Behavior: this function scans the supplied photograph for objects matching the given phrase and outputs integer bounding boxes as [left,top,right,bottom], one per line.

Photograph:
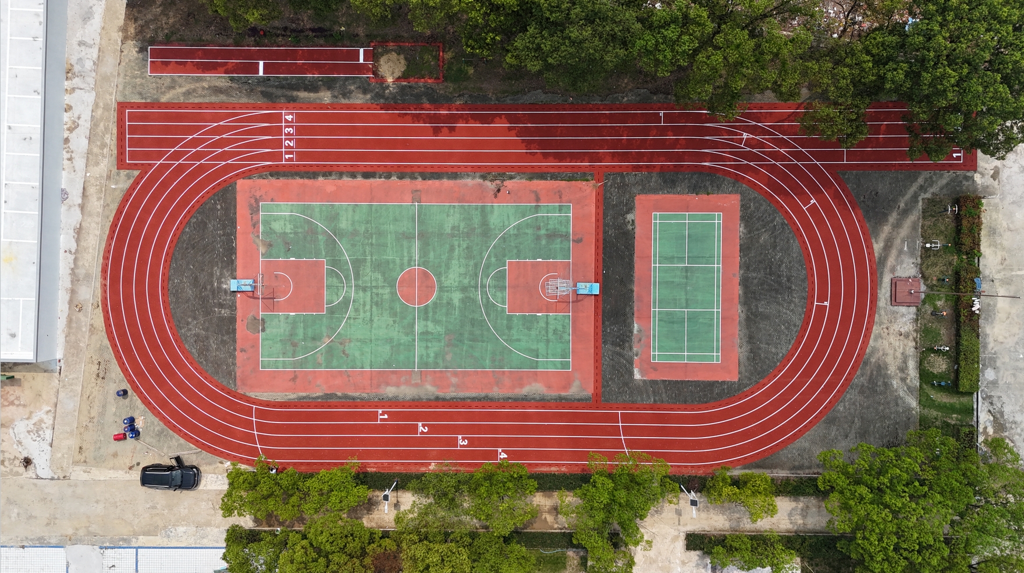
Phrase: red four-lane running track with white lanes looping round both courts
[101,102,976,475]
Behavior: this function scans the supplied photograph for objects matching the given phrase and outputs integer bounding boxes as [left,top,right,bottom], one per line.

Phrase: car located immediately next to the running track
[139,455,202,493]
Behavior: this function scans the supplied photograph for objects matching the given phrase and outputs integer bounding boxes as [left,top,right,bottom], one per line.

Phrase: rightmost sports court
[634,194,740,381]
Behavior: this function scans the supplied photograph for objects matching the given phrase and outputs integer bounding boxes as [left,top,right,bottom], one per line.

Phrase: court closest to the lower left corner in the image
[236,179,595,394]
